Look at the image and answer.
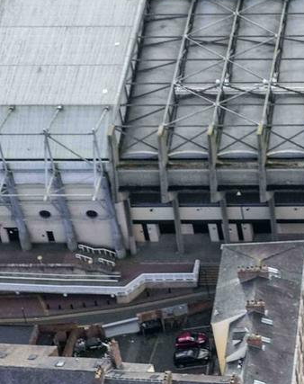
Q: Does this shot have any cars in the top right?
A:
No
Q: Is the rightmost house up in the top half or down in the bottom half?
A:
bottom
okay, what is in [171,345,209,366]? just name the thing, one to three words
car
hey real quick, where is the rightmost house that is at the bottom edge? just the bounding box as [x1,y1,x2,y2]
[211,238,304,384]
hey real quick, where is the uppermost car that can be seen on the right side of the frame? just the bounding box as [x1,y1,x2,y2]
[171,329,209,349]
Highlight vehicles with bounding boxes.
[79,338,110,357]
[171,329,209,349]
[171,345,209,366]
